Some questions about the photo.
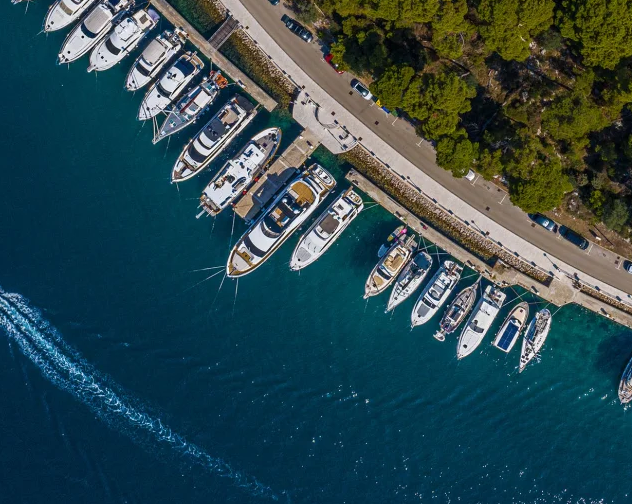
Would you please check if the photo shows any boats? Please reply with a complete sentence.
Yes, you can see a boat in this photo.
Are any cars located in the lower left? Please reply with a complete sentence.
No, there's no car to be seen in the lower left.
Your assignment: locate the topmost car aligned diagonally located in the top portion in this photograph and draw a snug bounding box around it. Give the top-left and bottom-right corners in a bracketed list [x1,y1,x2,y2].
[284,16,311,42]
